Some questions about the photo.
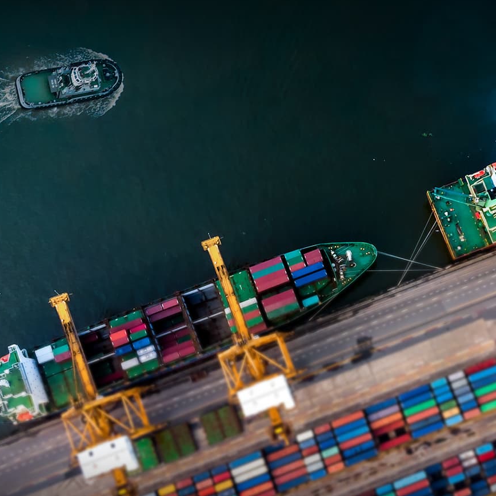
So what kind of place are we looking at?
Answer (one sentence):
The picture captures a port.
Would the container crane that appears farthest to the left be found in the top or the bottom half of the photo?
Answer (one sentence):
The bottom half of the photo is where the container crane that appears farthest to the left is.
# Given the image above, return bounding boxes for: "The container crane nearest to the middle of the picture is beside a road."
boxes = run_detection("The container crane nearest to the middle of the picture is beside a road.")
[202,234,310,438]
